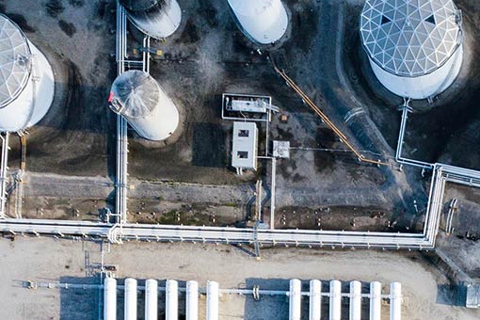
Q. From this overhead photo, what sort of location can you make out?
industrial area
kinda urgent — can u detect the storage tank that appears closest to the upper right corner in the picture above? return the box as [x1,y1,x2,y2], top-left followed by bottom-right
[360,0,468,102]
